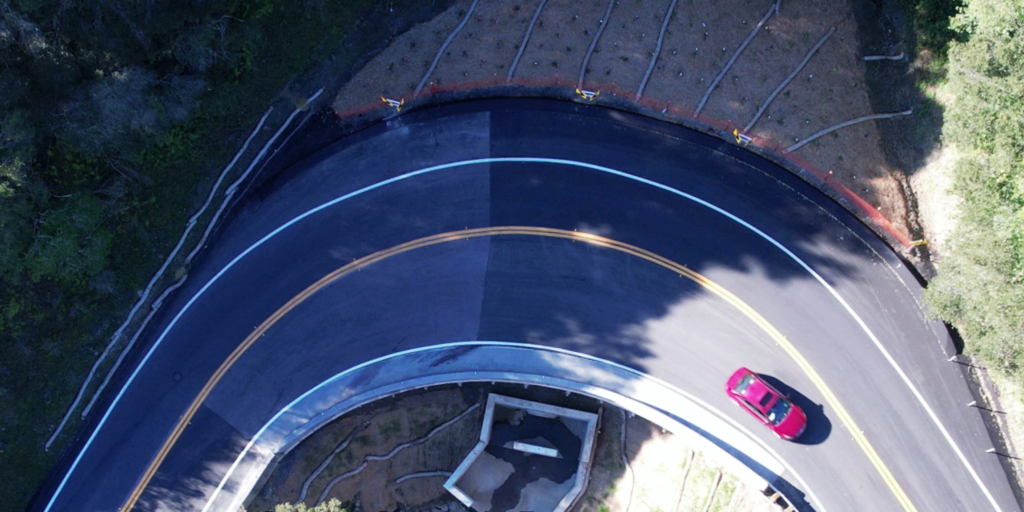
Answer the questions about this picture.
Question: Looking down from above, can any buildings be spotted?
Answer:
No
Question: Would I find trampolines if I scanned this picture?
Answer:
No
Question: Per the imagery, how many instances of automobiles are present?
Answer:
1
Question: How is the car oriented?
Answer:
at an angle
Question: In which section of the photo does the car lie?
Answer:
bottom right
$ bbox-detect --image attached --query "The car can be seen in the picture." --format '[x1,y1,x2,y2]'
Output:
[726,366,813,445]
